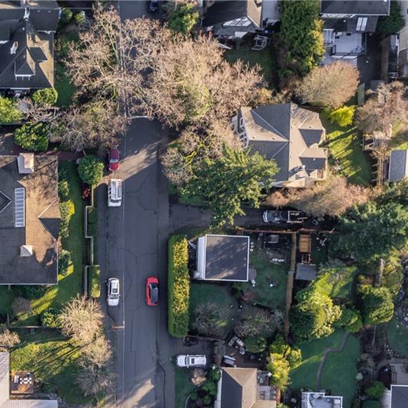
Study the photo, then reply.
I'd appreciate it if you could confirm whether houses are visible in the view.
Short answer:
Yes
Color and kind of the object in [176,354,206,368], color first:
white vehicle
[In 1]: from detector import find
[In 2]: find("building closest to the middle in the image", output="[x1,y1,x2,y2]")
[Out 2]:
[198,234,249,282]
